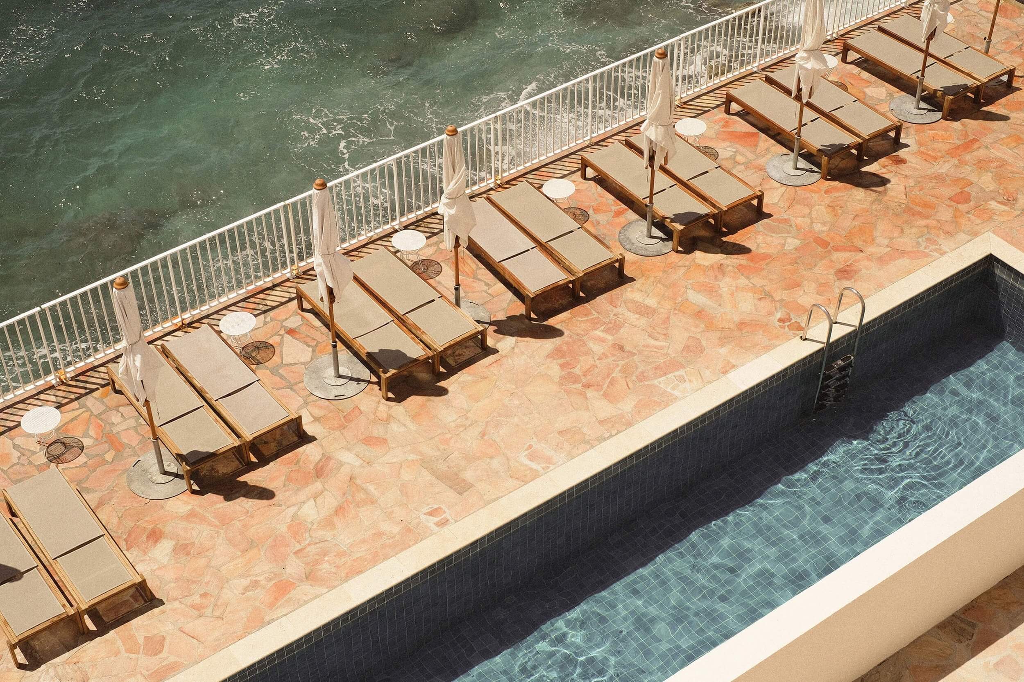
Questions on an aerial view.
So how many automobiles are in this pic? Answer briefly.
zero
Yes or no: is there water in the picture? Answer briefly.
Yes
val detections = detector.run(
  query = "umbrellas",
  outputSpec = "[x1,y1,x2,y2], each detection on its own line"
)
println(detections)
[436,125,488,338]
[115,277,192,498]
[307,179,366,398]
[622,49,676,254]
[892,0,954,124]
[769,0,830,185]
